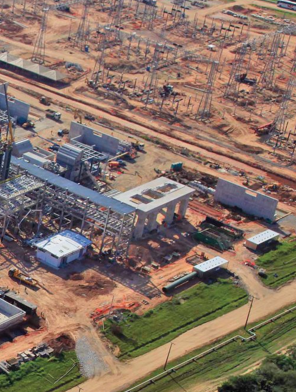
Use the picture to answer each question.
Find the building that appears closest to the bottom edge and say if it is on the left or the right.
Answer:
right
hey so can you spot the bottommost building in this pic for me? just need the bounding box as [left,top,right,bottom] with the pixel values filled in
[193,257,228,278]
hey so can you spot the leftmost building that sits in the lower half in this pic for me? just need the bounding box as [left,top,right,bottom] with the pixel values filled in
[33,231,92,269]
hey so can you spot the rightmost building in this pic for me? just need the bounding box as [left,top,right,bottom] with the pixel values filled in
[246,229,280,250]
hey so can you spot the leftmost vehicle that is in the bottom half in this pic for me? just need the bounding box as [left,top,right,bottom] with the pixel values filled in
[14,271,38,288]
